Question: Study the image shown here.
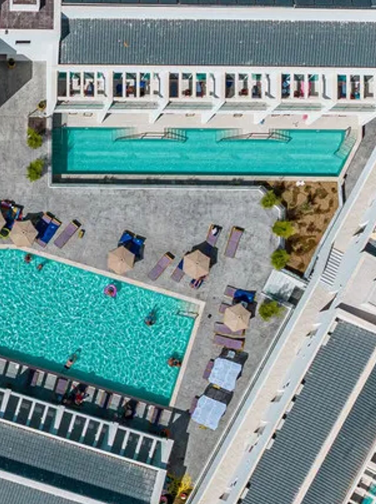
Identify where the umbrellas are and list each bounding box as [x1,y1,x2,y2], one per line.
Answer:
[106,246,136,276]
[9,218,37,249]
[205,355,243,393]
[222,303,251,333]
[190,393,228,431]
[181,249,210,280]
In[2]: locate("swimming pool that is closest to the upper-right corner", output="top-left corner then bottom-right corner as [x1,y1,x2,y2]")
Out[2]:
[47,122,362,181]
